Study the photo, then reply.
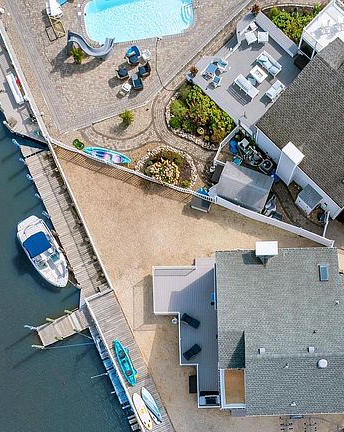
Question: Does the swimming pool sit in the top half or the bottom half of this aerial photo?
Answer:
top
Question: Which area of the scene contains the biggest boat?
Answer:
left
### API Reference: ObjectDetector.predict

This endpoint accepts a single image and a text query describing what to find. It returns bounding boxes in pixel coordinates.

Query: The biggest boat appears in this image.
[16,210,68,289]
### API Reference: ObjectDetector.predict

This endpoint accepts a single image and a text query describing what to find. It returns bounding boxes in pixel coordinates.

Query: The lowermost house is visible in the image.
[152,241,344,417]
